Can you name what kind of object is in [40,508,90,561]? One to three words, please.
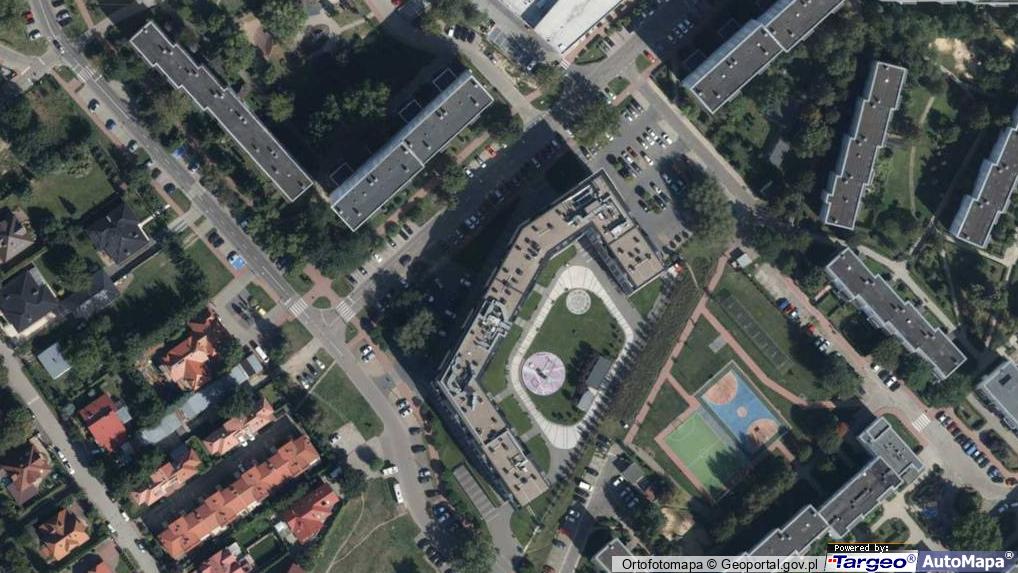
house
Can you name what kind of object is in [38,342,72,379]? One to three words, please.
shed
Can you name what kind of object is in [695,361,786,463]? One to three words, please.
basketball court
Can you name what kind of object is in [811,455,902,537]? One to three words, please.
building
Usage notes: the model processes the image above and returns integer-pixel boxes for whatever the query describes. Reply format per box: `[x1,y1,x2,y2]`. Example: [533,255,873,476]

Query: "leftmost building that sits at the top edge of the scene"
[129,22,312,200]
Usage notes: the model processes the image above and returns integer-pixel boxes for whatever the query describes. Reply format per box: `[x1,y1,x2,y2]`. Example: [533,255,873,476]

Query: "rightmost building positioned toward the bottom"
[970,359,1018,436]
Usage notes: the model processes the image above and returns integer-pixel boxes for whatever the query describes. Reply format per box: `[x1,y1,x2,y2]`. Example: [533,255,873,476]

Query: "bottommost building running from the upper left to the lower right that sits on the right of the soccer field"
[846,415,925,483]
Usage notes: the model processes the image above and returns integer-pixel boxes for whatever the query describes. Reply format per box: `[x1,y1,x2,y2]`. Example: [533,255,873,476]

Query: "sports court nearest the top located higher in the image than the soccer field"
[720,294,793,370]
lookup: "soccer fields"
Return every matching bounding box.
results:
[654,402,748,502]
